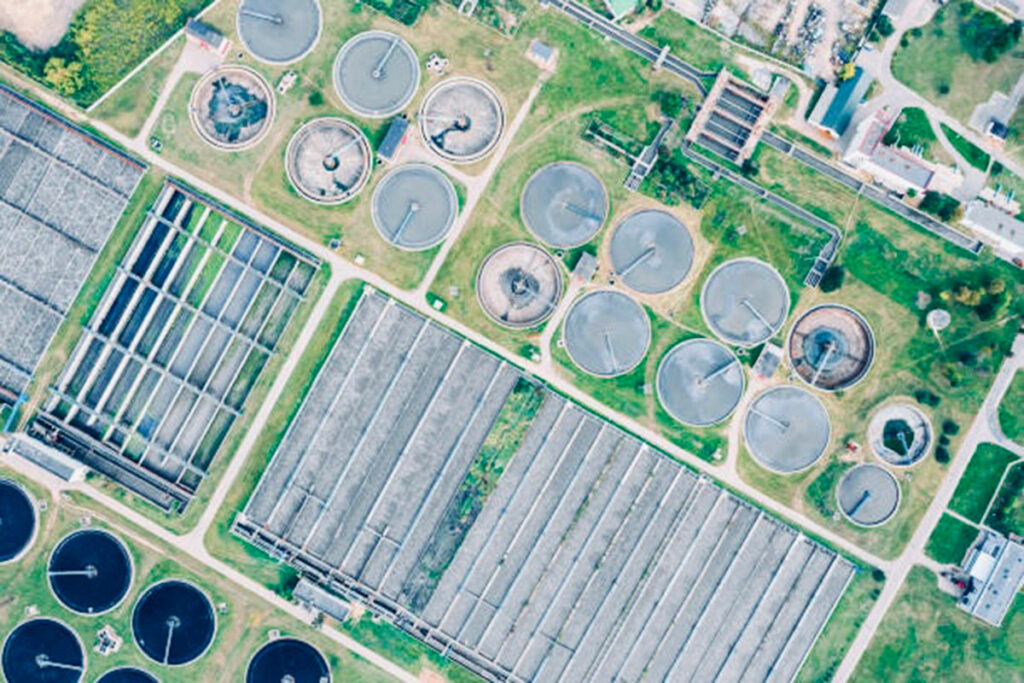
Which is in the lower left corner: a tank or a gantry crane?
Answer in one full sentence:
There is a tank in the lower left corner.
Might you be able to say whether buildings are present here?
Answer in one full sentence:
Yes, the picture does show a building.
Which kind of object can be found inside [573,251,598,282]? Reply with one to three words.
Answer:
shed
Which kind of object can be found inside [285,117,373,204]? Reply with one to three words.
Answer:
storage tank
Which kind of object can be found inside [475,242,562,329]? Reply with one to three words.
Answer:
storage tank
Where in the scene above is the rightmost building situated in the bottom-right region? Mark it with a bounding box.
[953,528,1024,628]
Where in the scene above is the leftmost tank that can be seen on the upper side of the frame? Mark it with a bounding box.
[188,65,275,152]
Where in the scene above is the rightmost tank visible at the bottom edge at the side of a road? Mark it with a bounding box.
[244,636,332,683]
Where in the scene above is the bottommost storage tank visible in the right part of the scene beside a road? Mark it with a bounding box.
[835,462,900,527]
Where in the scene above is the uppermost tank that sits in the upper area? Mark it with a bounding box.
[237,0,322,65]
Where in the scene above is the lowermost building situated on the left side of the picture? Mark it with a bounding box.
[291,575,354,623]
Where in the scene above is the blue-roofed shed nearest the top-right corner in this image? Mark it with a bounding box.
[986,120,1010,141]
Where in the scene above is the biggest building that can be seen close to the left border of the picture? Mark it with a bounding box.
[11,432,90,482]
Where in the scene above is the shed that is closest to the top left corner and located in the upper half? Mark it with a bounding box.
[185,20,230,57]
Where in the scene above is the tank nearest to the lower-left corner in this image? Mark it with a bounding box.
[1,616,87,683]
